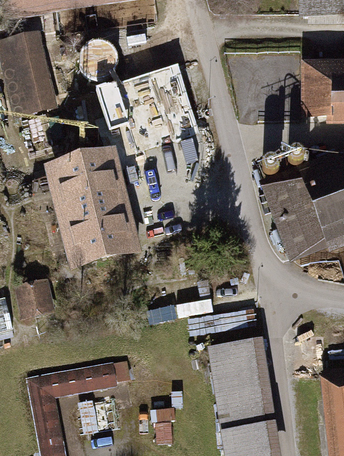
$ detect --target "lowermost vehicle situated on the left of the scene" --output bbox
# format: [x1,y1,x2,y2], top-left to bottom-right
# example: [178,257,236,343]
[90,436,114,449]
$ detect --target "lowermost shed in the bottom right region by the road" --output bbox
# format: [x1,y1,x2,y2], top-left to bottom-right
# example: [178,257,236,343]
[220,416,285,456]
